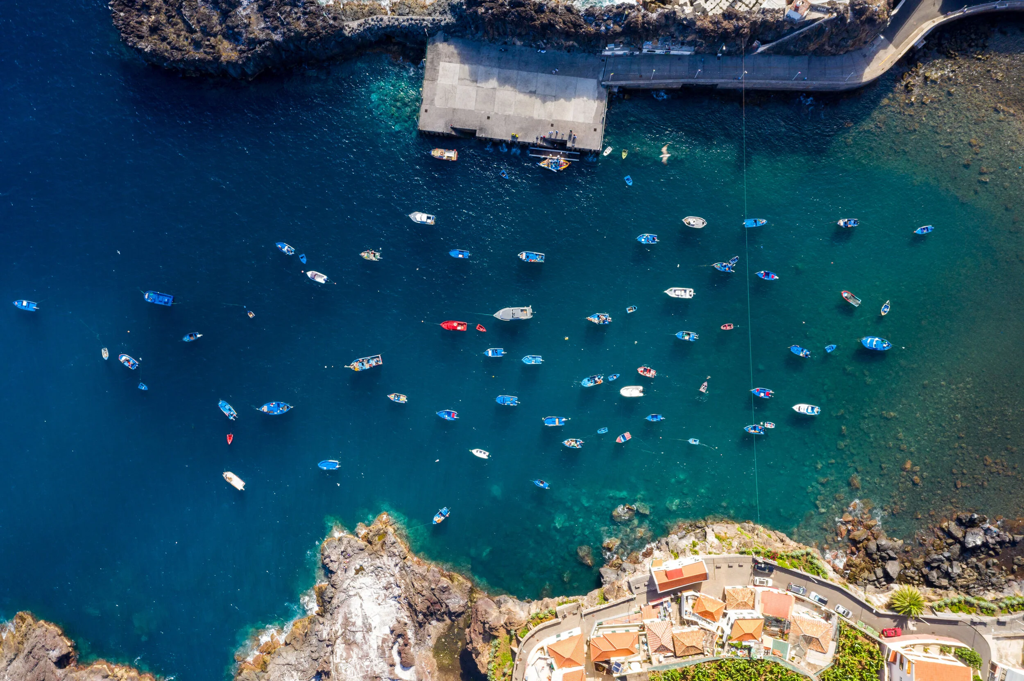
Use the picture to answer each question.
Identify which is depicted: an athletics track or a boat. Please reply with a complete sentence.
I can see a boat in this picture.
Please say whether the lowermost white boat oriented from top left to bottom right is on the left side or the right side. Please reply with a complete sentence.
You can find the lowermost white boat oriented from top left to bottom right on the left side of the picture.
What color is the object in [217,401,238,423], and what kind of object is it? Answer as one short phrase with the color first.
blue boat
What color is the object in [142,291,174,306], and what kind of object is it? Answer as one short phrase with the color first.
blue boat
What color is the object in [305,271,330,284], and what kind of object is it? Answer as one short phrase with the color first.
white boat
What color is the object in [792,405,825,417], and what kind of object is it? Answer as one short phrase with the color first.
white boat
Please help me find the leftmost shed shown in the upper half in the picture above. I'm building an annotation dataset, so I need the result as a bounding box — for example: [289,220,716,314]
[601,45,640,59]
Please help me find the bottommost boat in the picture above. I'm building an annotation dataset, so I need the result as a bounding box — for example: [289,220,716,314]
[433,508,452,525]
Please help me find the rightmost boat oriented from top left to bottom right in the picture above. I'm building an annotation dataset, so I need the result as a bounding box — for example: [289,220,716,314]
[842,290,863,307]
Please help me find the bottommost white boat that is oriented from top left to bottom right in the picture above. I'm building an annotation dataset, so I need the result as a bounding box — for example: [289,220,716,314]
[222,472,247,492]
